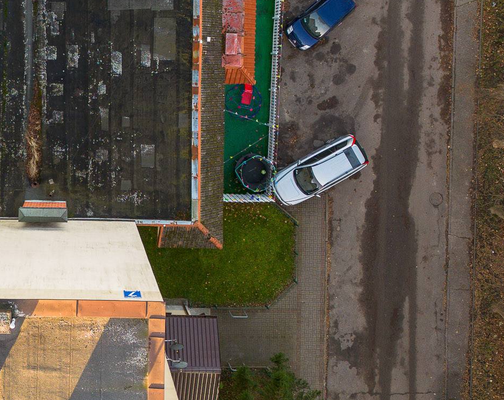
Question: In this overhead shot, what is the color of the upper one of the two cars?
blue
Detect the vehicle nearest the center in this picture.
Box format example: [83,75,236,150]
[273,135,369,206]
